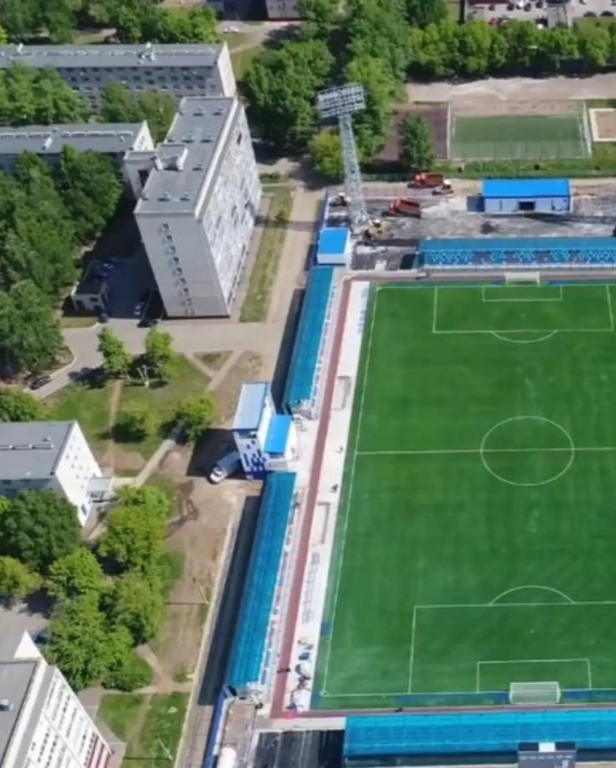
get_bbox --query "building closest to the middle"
[233,383,309,475]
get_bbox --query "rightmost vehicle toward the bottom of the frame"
[205,444,244,486]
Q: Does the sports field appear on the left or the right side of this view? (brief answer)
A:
right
